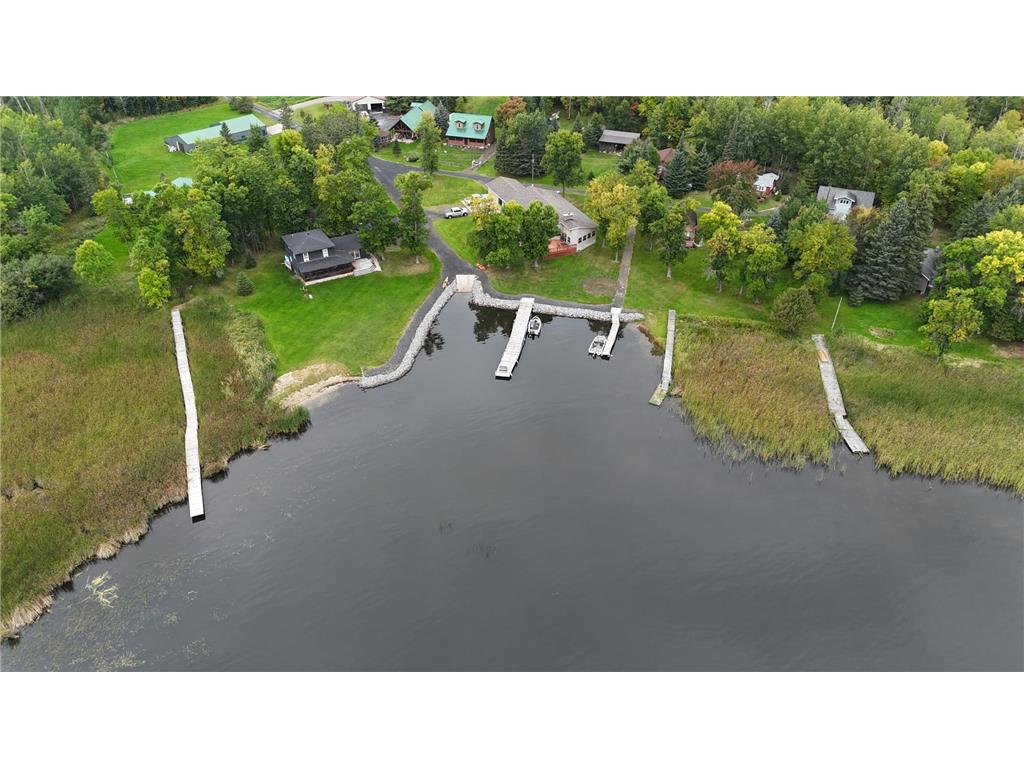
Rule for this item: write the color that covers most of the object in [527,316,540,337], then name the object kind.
white boat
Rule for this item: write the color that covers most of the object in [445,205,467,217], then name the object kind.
white vehicle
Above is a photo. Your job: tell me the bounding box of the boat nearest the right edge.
[588,335,603,357]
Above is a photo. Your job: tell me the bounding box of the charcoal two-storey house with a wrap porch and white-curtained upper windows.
[284,230,372,285]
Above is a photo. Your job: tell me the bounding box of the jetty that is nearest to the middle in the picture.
[496,297,535,380]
